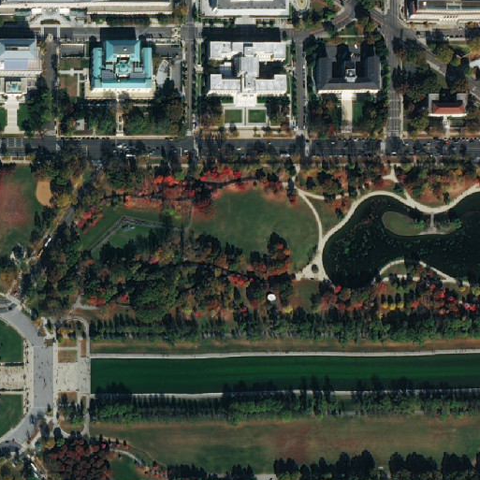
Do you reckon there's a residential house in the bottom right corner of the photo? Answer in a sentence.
No, there's no residential house to be seen in the bottom right corner of the photo.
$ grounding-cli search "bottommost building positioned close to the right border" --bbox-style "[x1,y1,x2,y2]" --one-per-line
[428,93,467,127]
